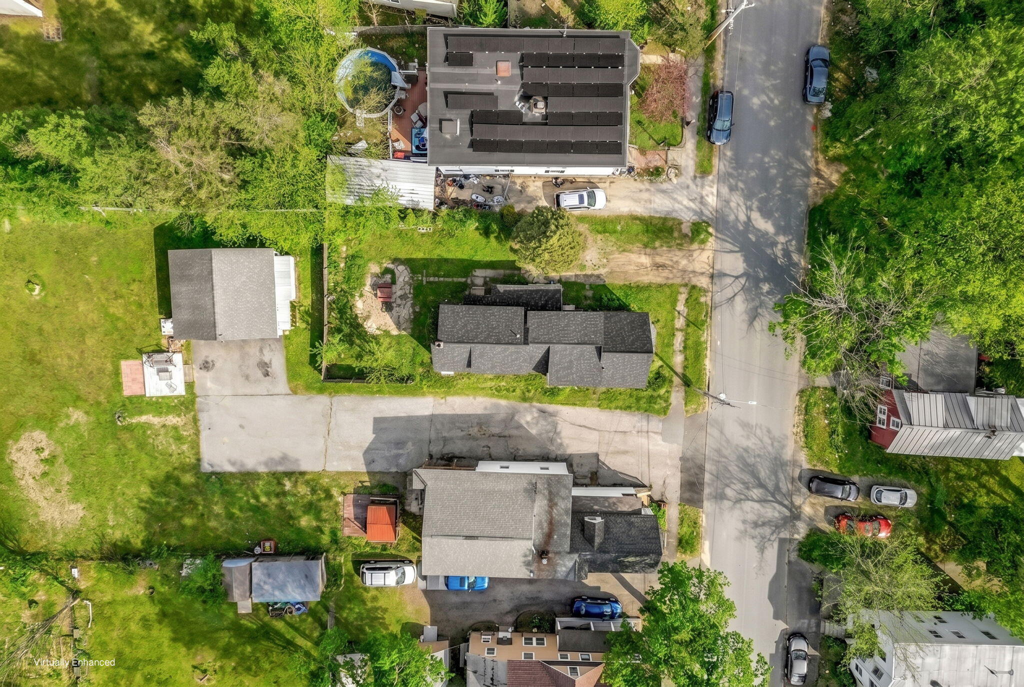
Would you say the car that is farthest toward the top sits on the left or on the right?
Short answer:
right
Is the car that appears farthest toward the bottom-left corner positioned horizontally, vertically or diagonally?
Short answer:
horizontally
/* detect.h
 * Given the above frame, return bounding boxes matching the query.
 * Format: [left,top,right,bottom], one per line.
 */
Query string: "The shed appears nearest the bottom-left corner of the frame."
[222,558,254,602]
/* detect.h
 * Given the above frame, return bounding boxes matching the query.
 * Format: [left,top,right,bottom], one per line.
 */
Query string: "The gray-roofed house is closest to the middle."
[431,284,657,388]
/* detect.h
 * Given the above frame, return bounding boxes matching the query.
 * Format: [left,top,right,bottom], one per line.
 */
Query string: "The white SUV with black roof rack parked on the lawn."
[363,557,417,585]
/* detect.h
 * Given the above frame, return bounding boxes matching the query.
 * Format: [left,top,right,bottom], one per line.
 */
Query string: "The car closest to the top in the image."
[801,48,830,104]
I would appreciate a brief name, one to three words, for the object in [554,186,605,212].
car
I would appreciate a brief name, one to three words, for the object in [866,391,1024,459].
house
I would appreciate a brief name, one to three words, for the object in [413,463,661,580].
house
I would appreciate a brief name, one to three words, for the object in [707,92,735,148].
car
